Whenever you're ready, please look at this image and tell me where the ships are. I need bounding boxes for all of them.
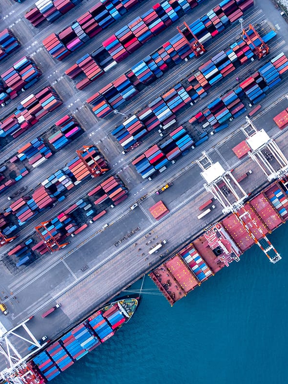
[149,174,288,306]
[0,297,140,384]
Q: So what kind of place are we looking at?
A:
port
